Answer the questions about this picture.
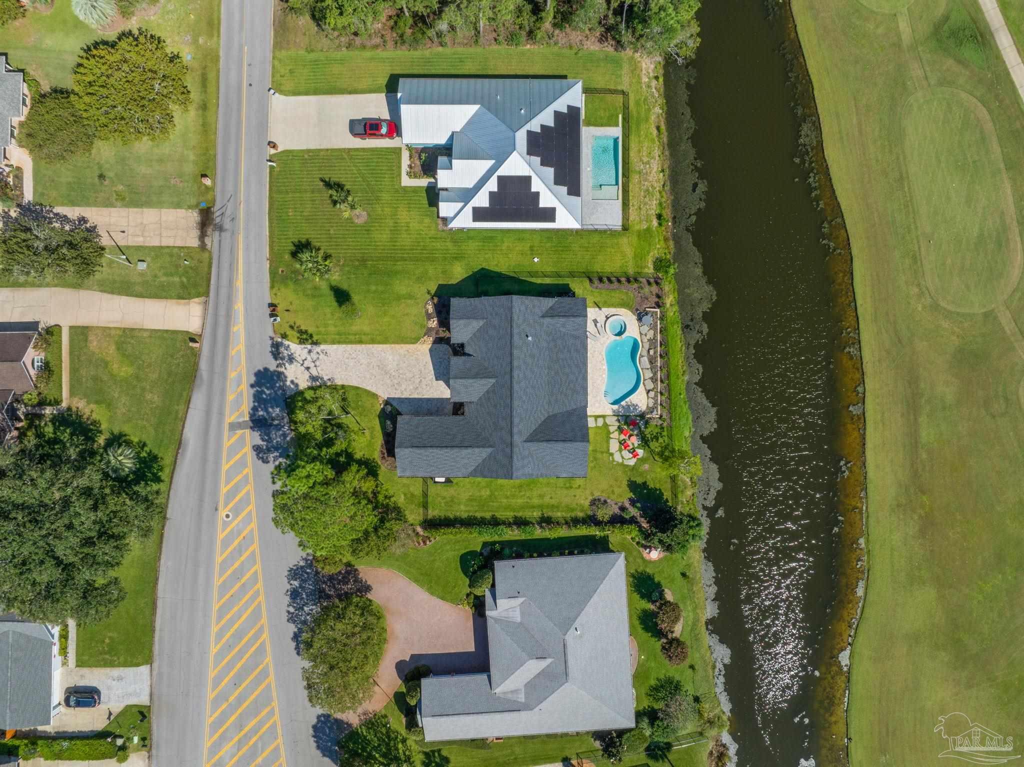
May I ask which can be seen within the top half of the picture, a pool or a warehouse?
pool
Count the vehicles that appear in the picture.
2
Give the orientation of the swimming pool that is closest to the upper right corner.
from top to bottom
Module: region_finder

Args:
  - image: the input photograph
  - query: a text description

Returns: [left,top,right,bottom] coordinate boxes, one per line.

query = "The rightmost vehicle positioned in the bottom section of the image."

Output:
[64,694,101,714]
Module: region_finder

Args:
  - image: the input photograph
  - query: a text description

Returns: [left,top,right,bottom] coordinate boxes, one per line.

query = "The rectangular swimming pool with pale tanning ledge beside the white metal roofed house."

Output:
[590,134,621,201]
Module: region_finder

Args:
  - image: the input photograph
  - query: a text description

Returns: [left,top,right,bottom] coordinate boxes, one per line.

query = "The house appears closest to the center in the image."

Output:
[395,296,589,479]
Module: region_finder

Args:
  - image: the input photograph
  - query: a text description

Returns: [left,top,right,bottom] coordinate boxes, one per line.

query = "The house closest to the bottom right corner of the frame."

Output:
[421,551,635,750]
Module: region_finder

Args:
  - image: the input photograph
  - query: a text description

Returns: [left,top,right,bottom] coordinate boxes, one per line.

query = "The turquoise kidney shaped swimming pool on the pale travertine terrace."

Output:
[602,334,643,407]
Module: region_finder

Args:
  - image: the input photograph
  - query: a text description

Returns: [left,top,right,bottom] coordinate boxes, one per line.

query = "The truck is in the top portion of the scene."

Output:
[351,118,398,140]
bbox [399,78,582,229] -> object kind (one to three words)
house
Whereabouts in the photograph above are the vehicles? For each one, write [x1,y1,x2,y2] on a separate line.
[351,118,398,140]
[64,694,101,714]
